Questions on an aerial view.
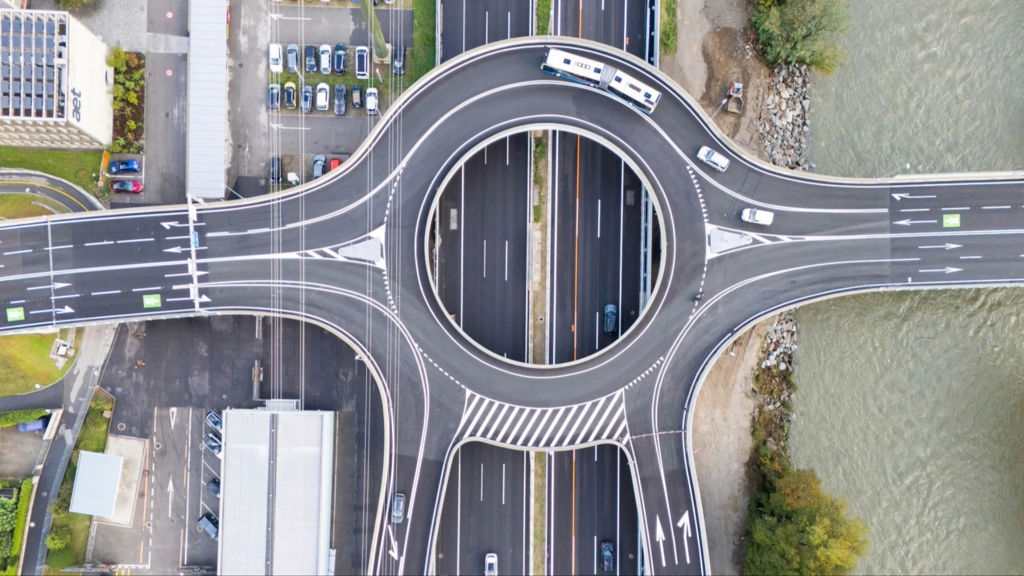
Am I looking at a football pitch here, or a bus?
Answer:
bus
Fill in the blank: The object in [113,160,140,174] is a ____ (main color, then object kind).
blue car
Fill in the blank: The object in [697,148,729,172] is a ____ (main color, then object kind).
white car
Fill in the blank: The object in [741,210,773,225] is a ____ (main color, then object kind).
white car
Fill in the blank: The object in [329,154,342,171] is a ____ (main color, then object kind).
red vehicle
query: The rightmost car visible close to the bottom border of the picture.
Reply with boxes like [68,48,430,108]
[600,540,615,571]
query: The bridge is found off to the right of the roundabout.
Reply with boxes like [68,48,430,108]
[884,166,1024,292]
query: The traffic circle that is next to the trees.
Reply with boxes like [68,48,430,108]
[204,36,892,479]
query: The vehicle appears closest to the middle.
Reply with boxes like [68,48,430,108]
[604,304,617,333]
